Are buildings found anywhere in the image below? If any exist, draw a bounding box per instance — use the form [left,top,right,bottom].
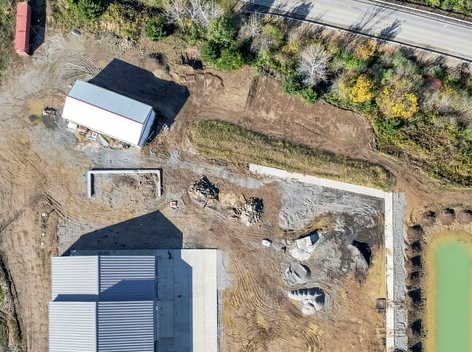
[64,80,155,148]
[50,255,160,352]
